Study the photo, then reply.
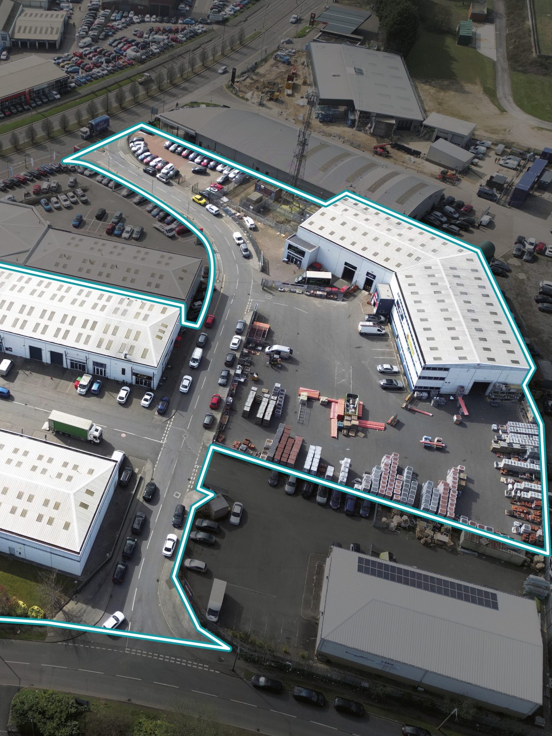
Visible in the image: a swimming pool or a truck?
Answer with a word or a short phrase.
truck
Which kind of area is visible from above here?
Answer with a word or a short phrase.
industrial area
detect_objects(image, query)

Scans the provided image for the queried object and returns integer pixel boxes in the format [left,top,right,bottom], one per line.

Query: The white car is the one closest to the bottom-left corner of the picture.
[101,609,126,635]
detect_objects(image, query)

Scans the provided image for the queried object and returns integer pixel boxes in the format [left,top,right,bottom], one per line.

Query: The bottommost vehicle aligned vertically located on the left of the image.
[205,578,228,624]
